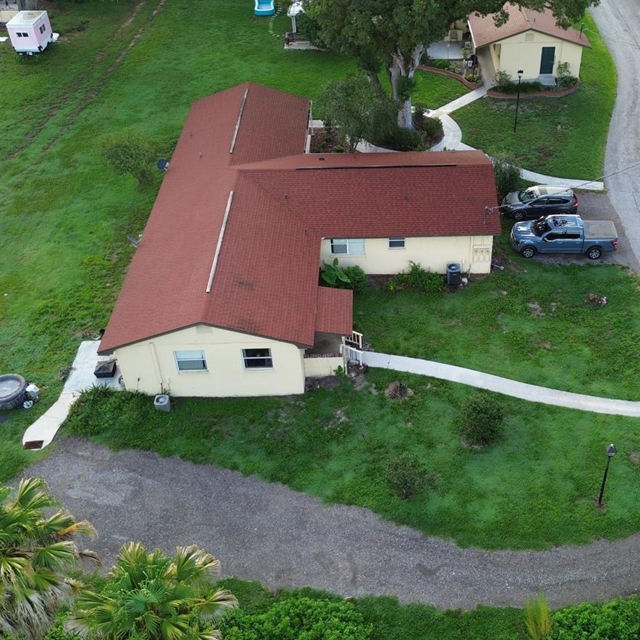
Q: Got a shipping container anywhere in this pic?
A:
No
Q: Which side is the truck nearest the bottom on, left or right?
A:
right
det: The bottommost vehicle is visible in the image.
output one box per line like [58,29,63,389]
[509,211,620,256]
